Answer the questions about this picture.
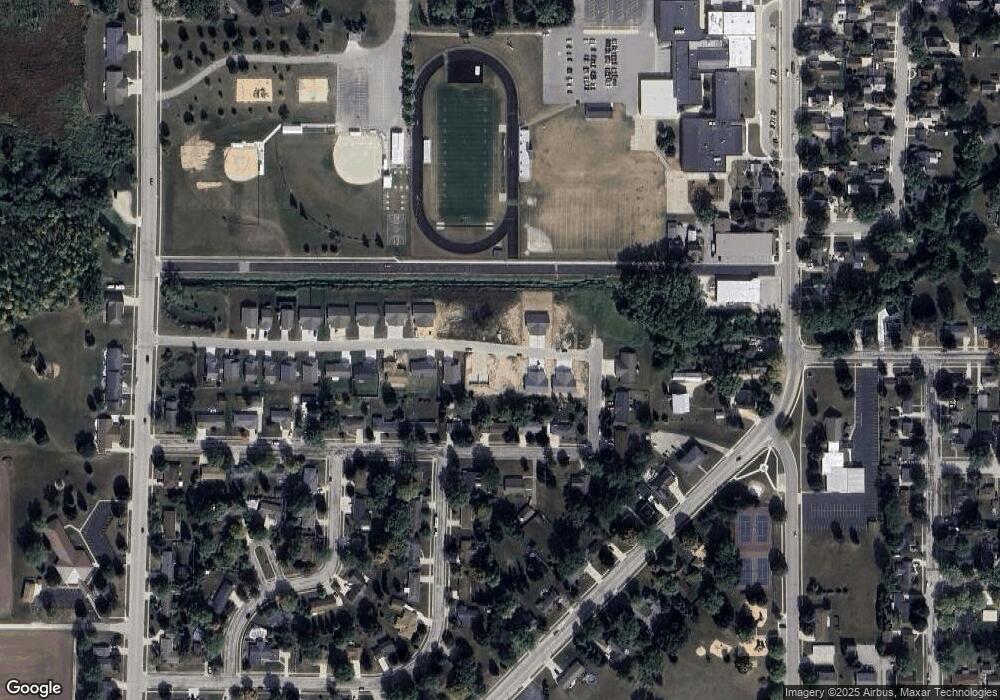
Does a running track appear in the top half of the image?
Yes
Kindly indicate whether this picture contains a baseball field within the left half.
Yes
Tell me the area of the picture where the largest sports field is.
top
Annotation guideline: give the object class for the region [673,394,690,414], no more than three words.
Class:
barn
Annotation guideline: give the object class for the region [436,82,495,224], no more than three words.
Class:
sports field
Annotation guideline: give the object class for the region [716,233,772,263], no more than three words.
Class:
building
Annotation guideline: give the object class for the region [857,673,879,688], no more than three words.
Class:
house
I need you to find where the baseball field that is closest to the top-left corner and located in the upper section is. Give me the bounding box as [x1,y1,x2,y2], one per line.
[224,144,260,182]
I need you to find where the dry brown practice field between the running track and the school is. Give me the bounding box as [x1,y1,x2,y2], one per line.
[522,105,666,261]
